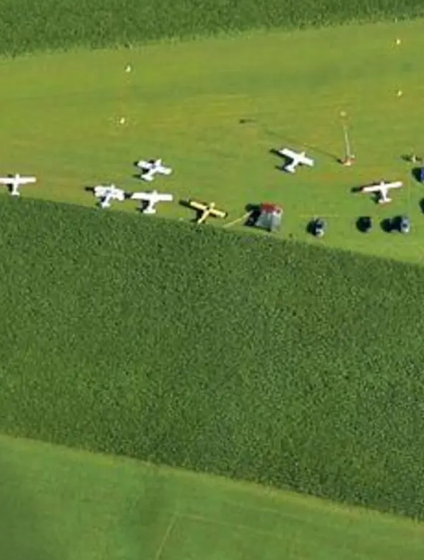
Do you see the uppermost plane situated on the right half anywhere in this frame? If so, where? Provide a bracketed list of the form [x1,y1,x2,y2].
[279,148,315,173]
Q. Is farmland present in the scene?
Yes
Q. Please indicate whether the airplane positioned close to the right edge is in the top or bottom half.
top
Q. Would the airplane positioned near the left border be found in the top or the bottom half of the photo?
top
